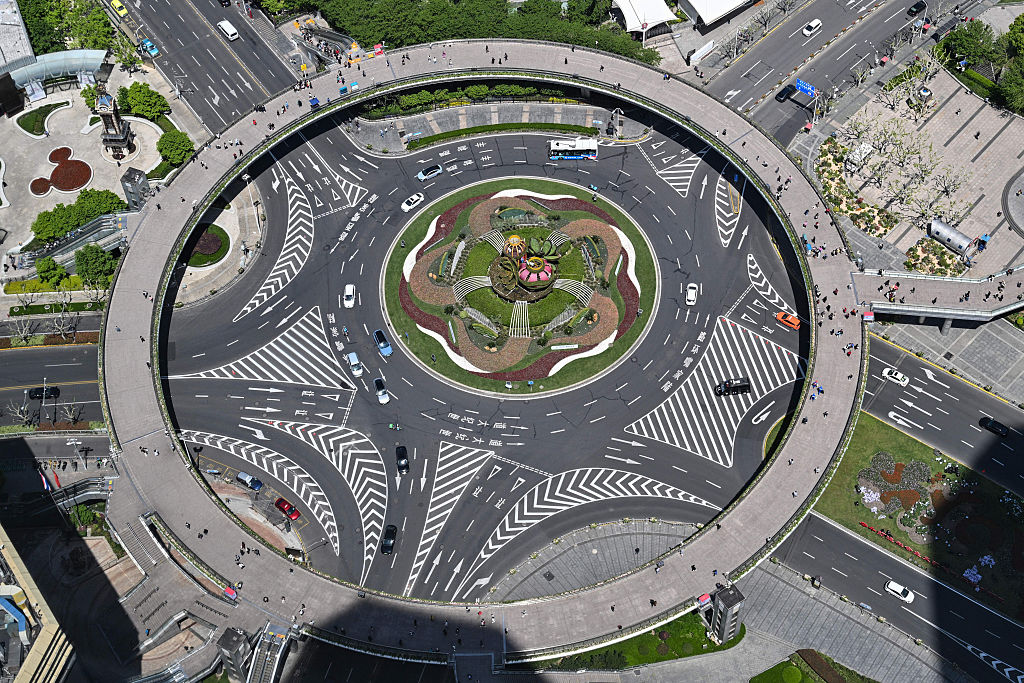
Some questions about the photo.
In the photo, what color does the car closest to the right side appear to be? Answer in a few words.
black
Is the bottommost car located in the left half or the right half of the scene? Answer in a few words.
right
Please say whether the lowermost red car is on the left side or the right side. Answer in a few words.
left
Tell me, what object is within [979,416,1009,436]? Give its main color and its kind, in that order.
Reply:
black car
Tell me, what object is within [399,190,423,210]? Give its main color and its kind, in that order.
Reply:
white car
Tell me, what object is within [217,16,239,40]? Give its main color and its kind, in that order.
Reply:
white vehicle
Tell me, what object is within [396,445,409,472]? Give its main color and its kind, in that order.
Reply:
black vehicle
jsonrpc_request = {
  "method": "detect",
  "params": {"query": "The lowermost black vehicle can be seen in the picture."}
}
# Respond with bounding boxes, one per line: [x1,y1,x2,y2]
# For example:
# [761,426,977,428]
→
[381,524,396,553]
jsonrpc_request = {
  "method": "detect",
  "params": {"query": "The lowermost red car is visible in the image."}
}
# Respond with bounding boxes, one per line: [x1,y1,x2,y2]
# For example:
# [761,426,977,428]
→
[274,495,300,519]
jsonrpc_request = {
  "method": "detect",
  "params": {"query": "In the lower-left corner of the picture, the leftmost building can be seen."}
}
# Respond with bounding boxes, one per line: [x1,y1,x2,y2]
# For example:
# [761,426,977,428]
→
[0,509,82,683]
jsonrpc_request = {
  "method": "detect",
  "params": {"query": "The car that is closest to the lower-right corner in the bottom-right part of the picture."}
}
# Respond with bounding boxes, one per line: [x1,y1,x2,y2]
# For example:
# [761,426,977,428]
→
[884,579,916,603]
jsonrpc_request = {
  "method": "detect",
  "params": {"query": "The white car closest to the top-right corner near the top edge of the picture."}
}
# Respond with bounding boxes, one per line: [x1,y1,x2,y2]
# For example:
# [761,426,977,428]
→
[803,18,822,35]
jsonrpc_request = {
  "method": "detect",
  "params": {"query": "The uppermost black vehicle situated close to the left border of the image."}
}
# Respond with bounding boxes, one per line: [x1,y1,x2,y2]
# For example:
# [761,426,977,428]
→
[28,384,58,400]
